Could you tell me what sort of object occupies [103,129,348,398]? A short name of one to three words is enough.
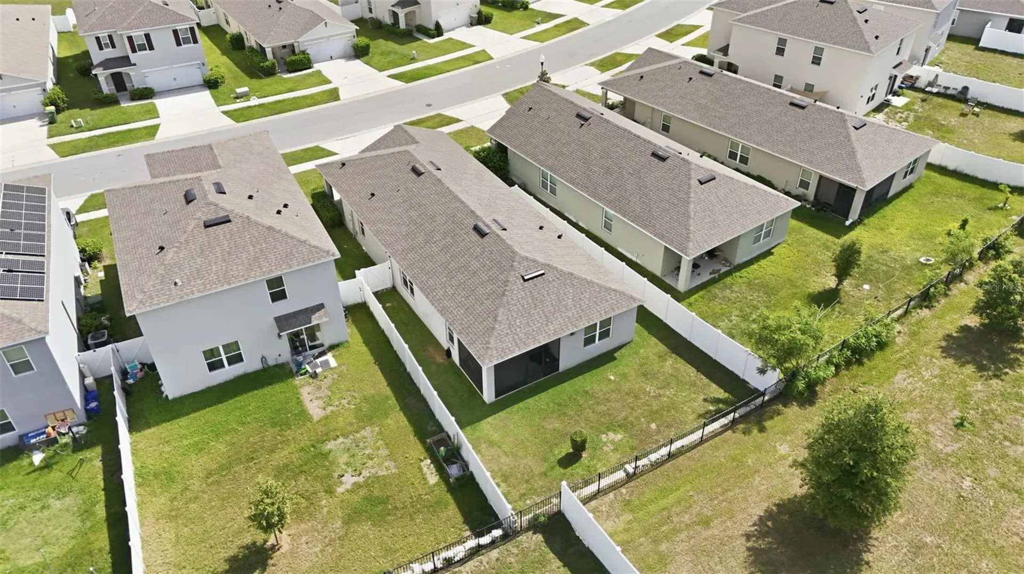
house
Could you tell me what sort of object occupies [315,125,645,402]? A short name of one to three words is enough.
house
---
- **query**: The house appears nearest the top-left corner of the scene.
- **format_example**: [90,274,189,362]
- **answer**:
[0,3,57,118]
